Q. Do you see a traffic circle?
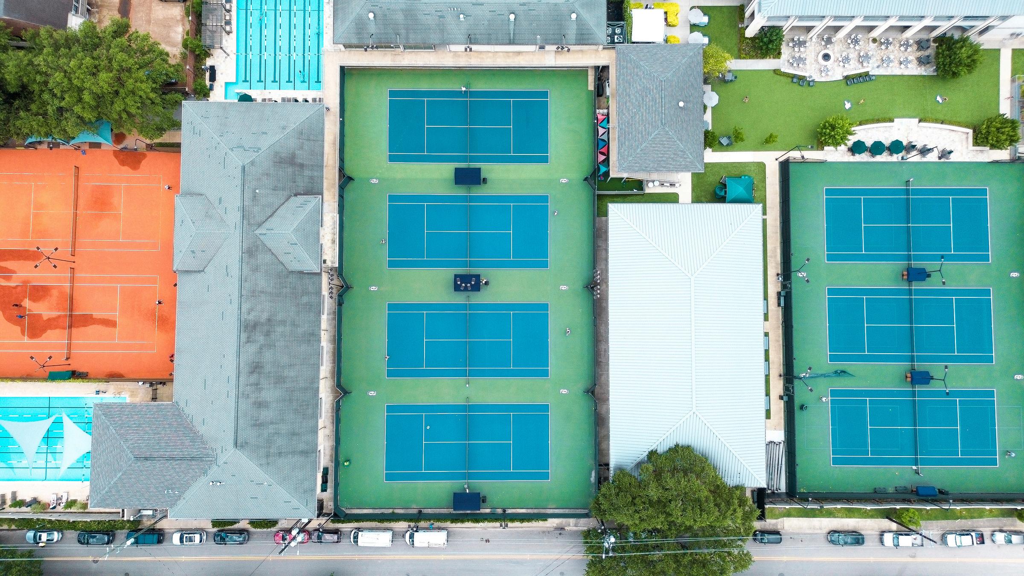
No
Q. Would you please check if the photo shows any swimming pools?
Yes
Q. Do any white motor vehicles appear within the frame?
Yes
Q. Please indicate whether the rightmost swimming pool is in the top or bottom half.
top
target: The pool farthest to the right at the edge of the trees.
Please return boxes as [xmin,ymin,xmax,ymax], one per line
[222,0,324,101]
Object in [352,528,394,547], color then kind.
white vehicle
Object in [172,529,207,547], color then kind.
white car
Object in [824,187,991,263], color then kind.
blue tennis court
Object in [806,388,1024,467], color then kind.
blue tennis court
